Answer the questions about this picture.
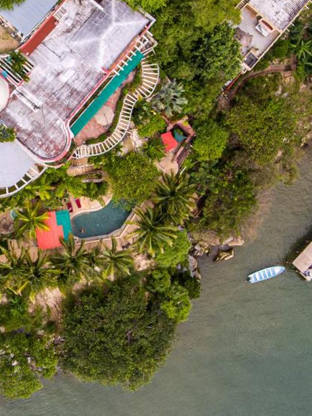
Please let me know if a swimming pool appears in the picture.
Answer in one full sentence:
Yes, the image includes a swimming pool.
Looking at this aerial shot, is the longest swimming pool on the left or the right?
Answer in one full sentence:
The longest swimming pool is on the left side of the image.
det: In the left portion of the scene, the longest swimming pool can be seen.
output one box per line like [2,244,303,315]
[8,192,143,262]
